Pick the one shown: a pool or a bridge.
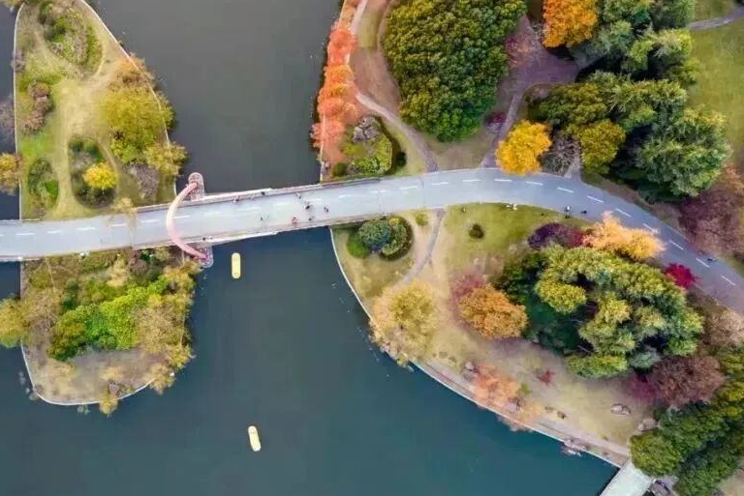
bridge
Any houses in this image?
No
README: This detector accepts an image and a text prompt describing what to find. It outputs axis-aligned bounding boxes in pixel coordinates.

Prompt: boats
[247,426,260,451]
[231,252,240,279]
